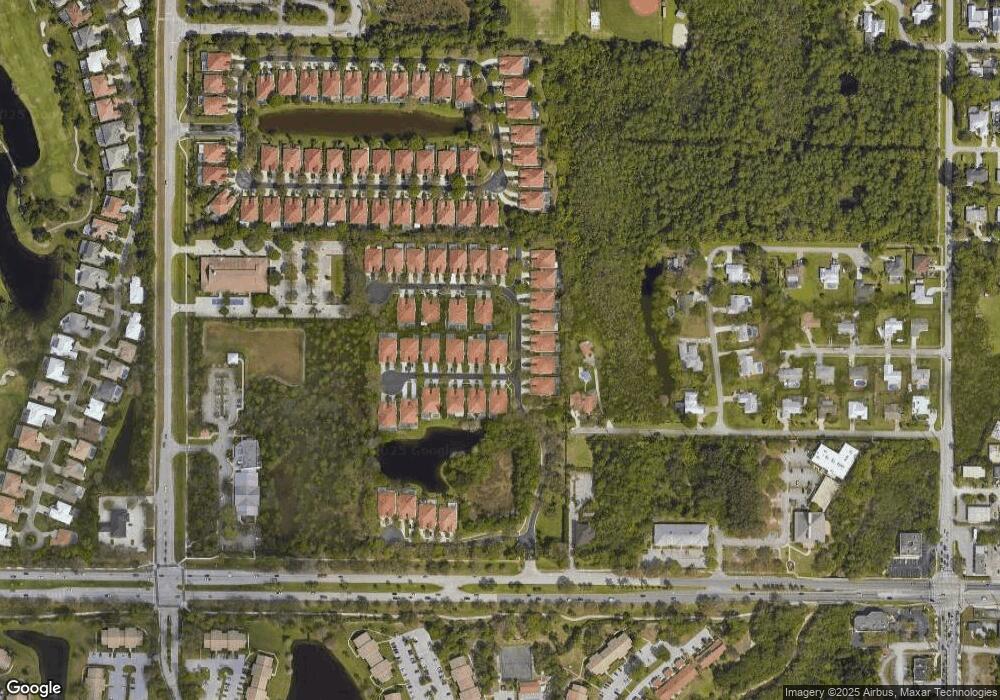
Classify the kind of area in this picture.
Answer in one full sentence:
What you see here is a residential area.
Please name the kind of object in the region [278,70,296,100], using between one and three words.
house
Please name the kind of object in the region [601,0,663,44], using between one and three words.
baseball field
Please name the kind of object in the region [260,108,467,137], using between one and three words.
pond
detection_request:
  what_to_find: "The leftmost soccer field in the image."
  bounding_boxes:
[509,0,575,43]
